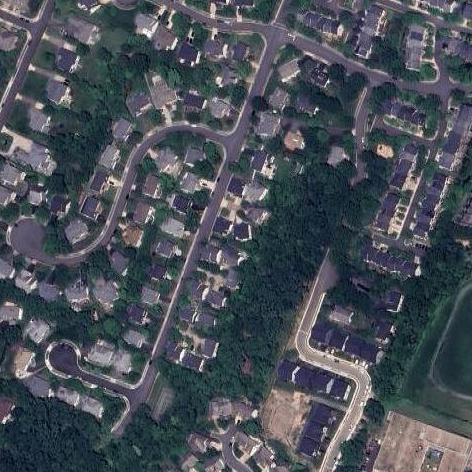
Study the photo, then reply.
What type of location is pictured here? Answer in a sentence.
This image shows a residential area.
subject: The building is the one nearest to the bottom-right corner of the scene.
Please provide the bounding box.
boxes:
[368,411,472,472]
